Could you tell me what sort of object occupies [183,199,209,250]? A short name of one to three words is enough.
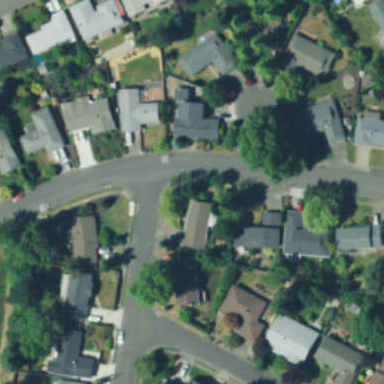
house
